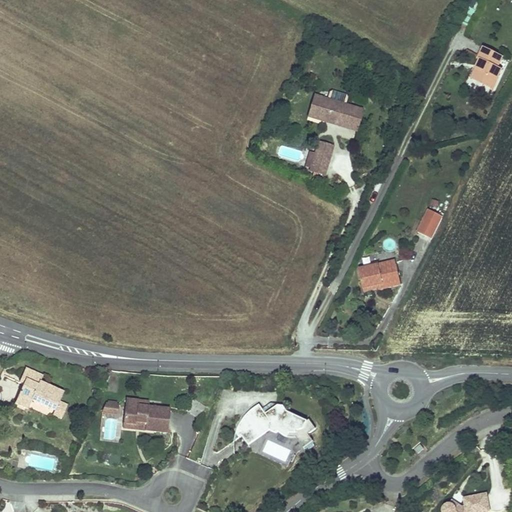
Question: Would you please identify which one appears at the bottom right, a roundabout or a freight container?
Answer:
roundabout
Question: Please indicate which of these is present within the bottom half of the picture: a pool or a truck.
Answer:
pool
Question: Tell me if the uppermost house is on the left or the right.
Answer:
right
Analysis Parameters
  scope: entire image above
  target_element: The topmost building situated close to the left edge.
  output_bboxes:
[16,366,68,418]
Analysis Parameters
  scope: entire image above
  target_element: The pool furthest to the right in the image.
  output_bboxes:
[382,238,396,252]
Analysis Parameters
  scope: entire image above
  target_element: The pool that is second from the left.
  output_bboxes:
[100,412,121,442]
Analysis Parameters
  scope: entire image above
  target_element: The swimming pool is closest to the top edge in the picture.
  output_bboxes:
[278,146,308,166]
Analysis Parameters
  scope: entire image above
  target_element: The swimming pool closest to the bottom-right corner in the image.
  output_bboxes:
[262,440,292,462]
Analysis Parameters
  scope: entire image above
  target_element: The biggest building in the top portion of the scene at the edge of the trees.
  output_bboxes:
[308,89,364,133]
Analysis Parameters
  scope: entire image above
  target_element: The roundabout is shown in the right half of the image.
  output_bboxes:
[368,360,428,422]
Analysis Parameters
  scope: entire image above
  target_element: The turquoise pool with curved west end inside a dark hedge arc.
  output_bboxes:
[18,450,59,474]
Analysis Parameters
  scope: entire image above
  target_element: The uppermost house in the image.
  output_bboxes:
[471,45,504,92]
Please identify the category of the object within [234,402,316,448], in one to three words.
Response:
house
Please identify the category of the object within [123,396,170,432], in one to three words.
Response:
house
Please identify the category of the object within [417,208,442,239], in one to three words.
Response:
barn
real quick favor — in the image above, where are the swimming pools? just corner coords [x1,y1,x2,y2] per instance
[382,238,396,252]
[278,146,308,166]
[100,412,121,442]
[262,440,292,462]
[18,450,59,474]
